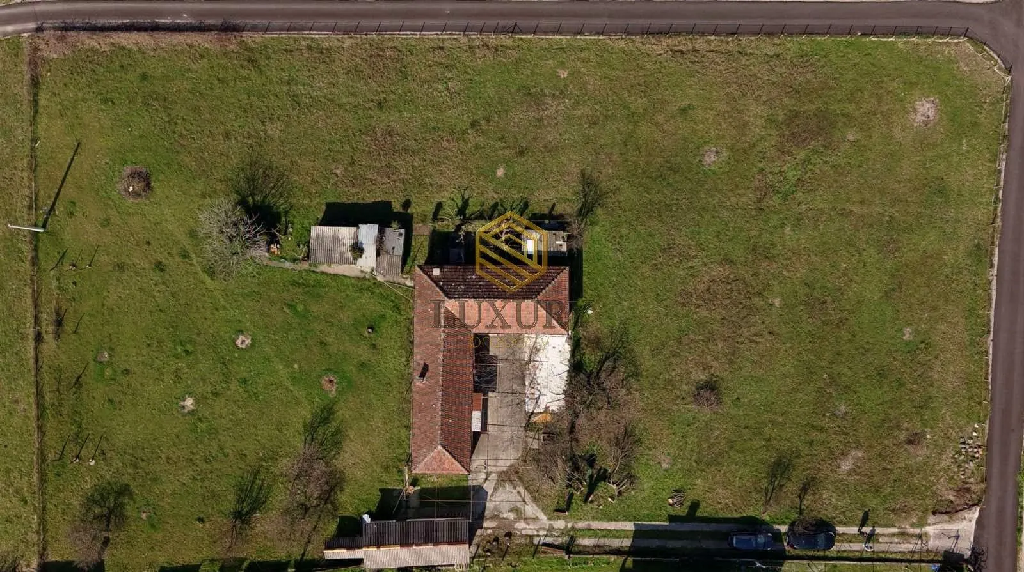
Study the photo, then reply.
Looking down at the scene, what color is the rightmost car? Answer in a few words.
black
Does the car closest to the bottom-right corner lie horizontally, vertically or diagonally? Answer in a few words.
horizontally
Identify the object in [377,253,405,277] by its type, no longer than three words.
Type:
shed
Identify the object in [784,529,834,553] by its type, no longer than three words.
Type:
car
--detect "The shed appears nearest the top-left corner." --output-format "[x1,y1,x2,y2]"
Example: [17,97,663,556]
[310,226,359,265]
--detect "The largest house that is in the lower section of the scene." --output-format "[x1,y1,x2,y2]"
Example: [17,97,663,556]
[409,264,570,475]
